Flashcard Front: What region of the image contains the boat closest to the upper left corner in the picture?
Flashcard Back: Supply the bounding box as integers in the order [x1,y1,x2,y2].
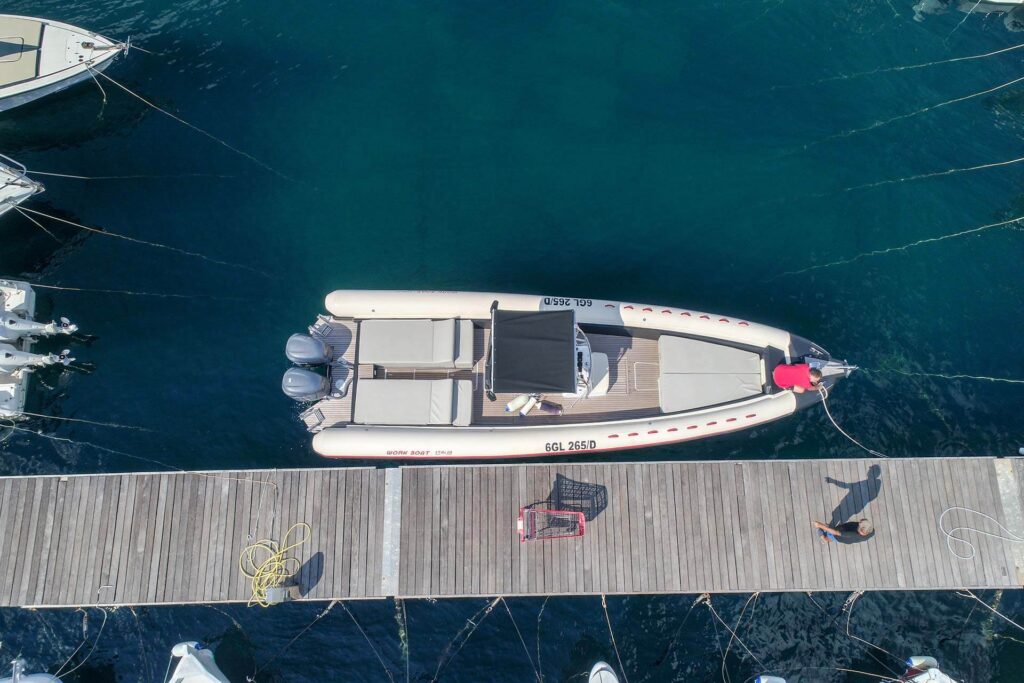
[0,14,132,111]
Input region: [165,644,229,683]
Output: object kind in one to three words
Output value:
boat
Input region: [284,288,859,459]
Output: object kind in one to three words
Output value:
boat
